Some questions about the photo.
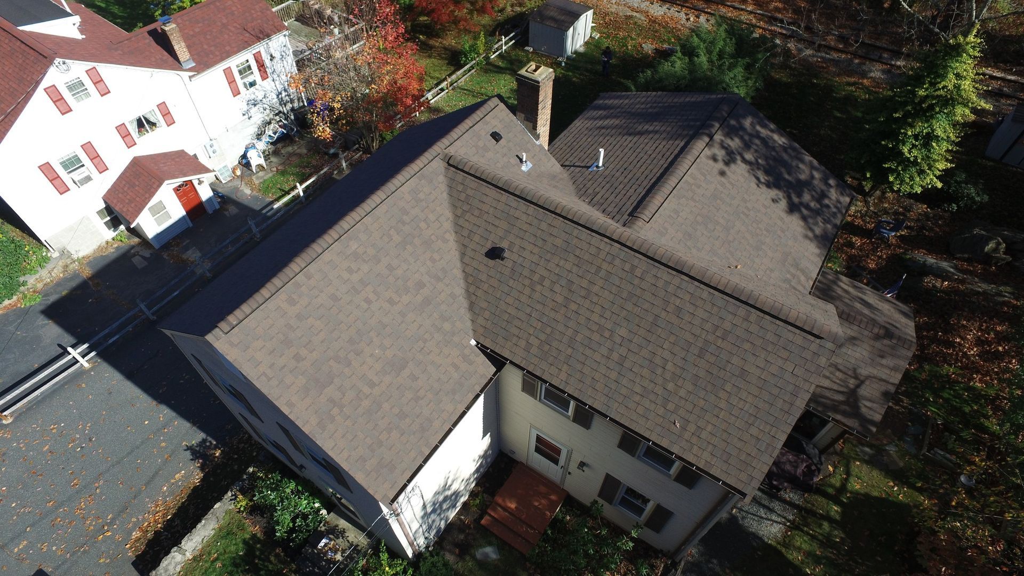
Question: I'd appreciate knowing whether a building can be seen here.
Yes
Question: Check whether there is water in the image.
No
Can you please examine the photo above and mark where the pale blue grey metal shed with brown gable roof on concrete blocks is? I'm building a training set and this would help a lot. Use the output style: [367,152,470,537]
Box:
[529,0,596,57]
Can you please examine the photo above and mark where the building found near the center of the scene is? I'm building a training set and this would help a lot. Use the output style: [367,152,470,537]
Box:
[155,62,920,563]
